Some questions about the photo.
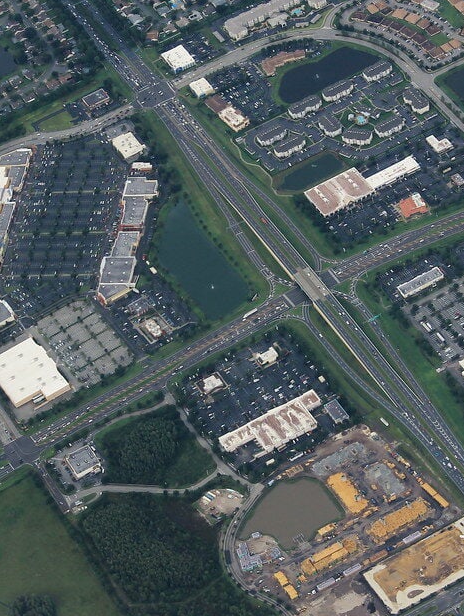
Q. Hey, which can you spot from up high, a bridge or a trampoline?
bridge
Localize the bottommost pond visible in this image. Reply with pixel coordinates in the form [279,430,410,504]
[238,477,344,550]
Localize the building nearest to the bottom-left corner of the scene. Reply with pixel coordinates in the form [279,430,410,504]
[67,445,97,477]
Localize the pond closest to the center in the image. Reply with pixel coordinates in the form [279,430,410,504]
[156,201,252,318]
